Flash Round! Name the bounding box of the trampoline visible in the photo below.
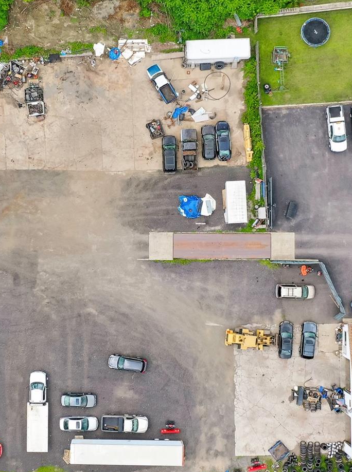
[301,15,331,46]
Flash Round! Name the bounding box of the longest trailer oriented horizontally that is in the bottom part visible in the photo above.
[70,435,184,466]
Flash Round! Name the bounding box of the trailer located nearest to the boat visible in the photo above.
[221,181,246,223]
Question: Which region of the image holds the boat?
center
